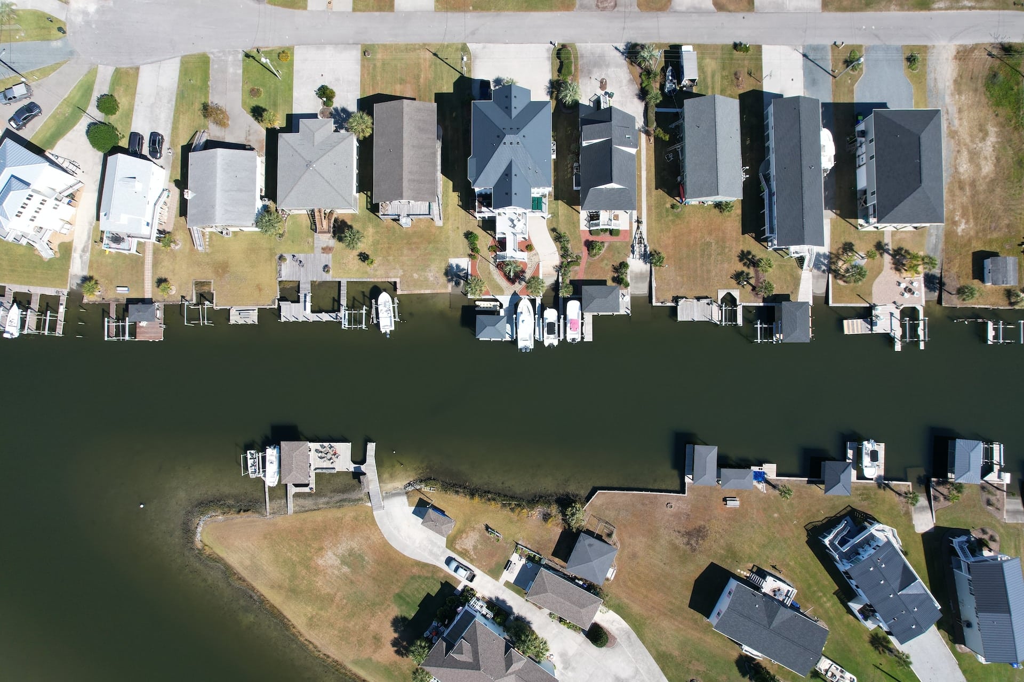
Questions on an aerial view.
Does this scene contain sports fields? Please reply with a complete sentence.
No, this view has no sports field in it.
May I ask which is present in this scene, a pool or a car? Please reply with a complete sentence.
It is a car that can be seen here.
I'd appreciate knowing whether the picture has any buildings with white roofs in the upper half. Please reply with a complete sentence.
Yes, looking in the upper half, one can make out a building with a white roof.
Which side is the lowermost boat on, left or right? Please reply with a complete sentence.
The lowermost boat is on the right side of the image.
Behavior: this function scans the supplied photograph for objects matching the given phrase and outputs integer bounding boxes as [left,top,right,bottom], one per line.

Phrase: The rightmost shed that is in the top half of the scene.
[982,256,1018,285]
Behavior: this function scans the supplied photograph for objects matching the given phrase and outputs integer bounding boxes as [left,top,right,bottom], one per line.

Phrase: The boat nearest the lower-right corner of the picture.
[814,654,855,682]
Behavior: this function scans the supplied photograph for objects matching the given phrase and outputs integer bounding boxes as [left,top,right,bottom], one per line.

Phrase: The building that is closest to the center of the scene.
[476,315,507,338]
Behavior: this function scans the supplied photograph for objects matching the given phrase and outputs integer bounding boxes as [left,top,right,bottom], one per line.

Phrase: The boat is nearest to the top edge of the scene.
[665,65,677,99]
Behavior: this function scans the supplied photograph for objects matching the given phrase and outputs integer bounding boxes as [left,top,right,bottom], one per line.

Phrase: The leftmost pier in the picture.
[0,284,75,336]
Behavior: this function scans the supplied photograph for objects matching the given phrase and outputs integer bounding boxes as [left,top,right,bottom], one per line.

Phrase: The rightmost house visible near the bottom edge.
[949,535,1024,665]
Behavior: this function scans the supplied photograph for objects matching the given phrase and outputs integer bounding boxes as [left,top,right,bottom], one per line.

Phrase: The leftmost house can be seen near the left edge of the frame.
[0,137,85,259]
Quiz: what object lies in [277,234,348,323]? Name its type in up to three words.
pier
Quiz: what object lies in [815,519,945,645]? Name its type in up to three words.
house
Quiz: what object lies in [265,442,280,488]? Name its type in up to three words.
boat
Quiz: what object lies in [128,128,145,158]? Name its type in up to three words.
car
